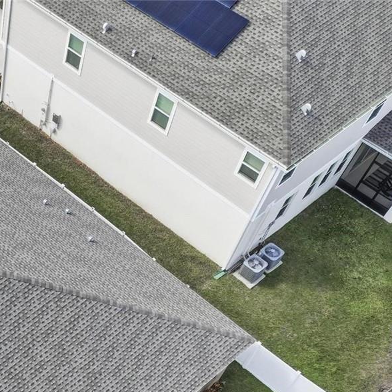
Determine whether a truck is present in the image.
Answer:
No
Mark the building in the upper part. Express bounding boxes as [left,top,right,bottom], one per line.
[0,0,392,271]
